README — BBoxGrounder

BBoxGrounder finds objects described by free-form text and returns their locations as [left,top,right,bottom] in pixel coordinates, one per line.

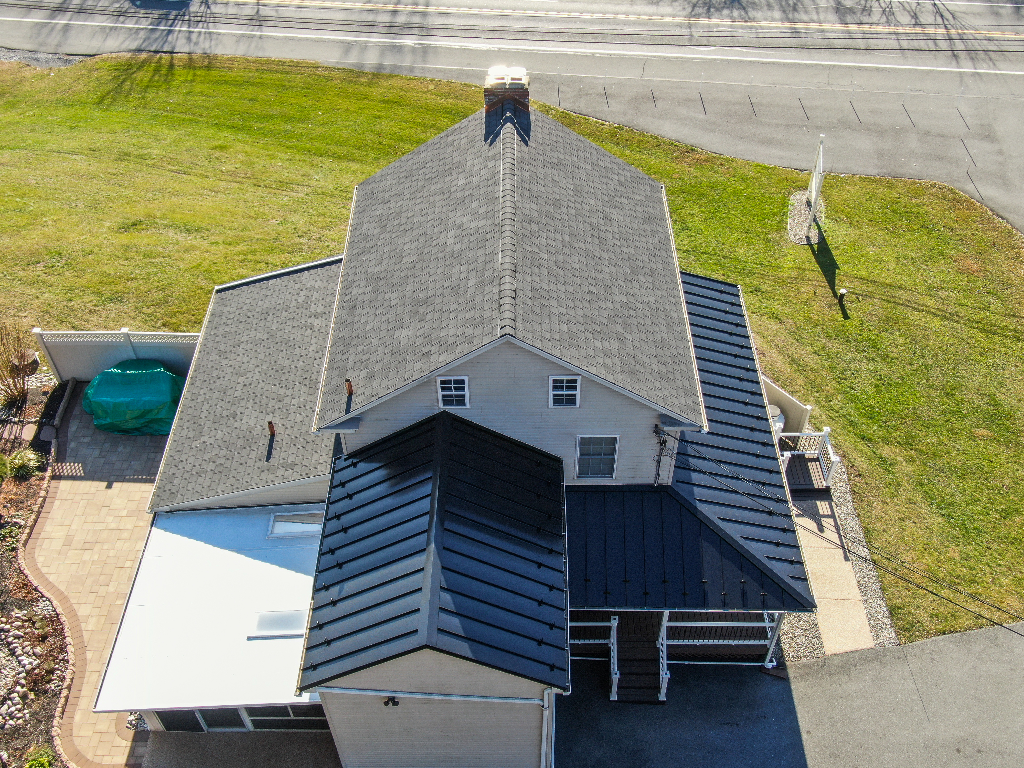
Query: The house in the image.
[87,63,840,768]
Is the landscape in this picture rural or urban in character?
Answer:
urban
